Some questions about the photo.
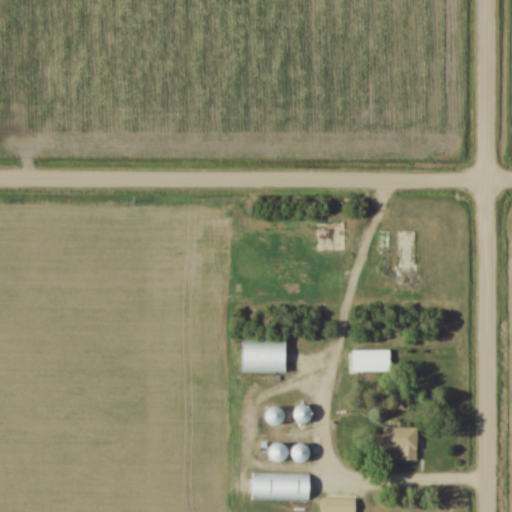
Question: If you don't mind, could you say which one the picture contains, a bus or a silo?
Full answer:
Of the two, only a silo appears.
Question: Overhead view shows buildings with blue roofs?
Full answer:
No, there appears to be no building with a blue roof in this shot.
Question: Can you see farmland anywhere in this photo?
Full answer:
Yes, there's farmland in this view.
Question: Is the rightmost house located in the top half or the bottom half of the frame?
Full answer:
You can find the rightmost house in the bottom half.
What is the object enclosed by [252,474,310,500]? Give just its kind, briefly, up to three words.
barn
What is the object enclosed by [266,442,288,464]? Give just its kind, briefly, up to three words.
silo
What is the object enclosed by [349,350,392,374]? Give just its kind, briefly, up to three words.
shed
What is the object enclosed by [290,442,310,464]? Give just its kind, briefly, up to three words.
silo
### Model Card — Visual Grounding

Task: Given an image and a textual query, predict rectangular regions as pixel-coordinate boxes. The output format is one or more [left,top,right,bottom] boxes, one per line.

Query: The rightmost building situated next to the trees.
[391,427,418,462]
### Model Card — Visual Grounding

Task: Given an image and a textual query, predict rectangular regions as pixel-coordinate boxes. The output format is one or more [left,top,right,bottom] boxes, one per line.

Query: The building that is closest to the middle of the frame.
[242,342,286,373]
